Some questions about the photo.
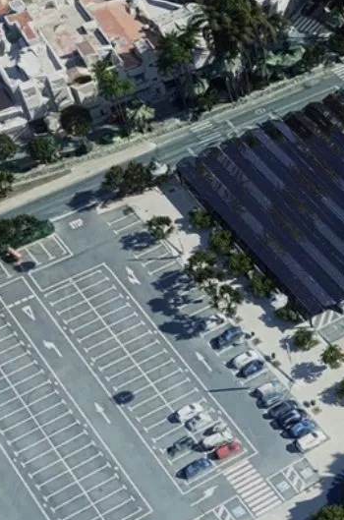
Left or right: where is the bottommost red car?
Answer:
right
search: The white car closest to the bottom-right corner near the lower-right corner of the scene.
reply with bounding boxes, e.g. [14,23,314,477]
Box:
[294,432,327,454]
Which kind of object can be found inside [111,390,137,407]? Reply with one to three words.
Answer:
car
